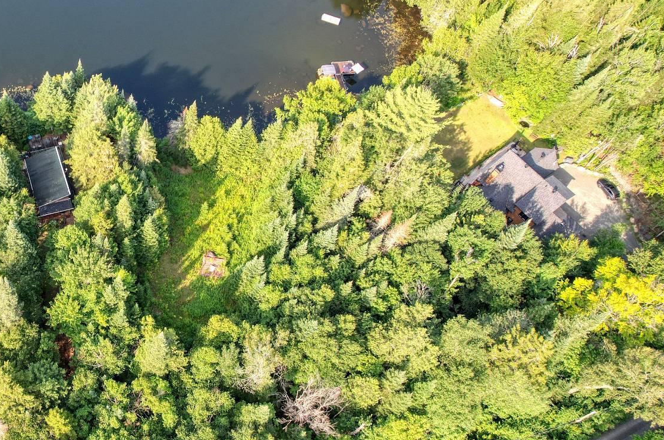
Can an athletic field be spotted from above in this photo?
No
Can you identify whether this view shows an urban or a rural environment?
rural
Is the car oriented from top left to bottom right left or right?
right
